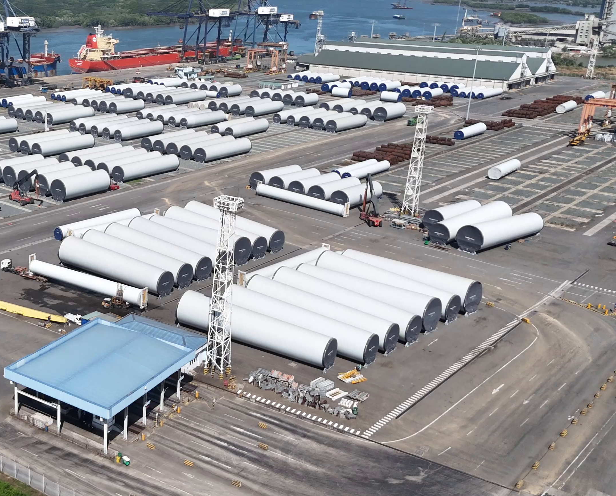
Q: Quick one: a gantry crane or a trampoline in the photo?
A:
gantry crane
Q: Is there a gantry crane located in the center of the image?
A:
No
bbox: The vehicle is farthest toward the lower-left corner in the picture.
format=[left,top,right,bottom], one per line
[64,313,83,325]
